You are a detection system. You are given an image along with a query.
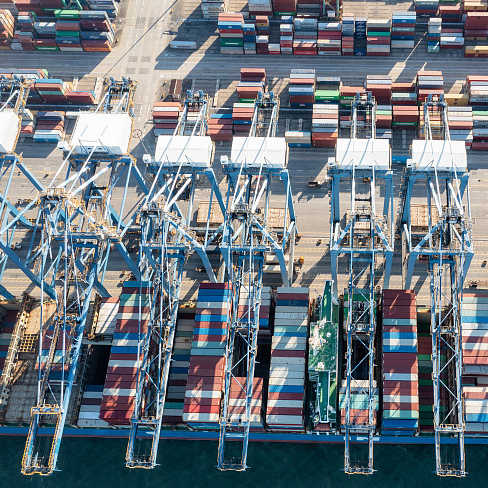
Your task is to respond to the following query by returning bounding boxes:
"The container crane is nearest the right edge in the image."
[392,87,479,479]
